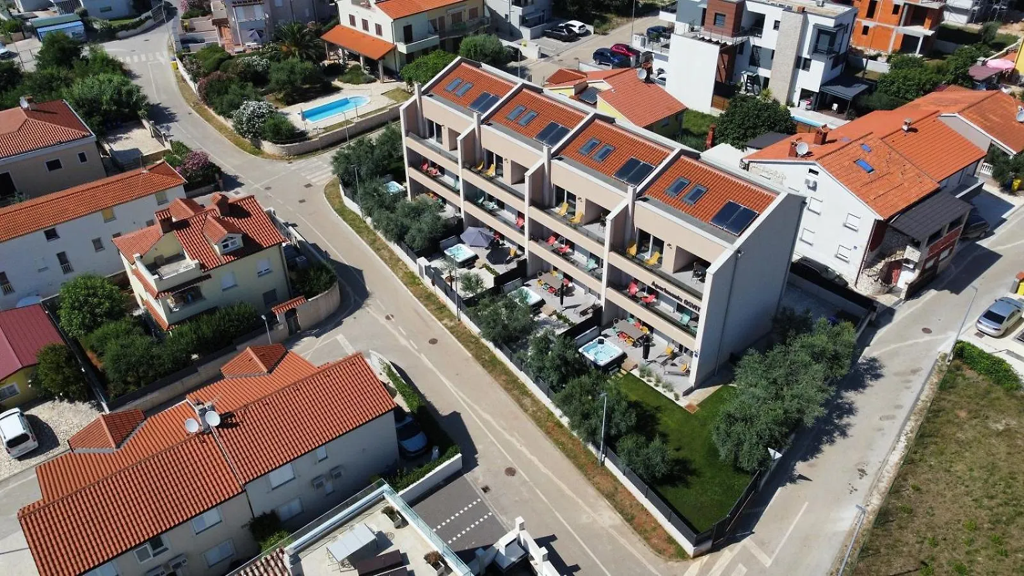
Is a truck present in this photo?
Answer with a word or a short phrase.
No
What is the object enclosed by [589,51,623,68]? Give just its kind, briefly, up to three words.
car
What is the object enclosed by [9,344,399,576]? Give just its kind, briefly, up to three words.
house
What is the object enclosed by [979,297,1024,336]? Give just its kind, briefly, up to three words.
car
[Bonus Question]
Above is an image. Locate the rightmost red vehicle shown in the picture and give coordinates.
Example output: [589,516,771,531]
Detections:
[610,44,642,60]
